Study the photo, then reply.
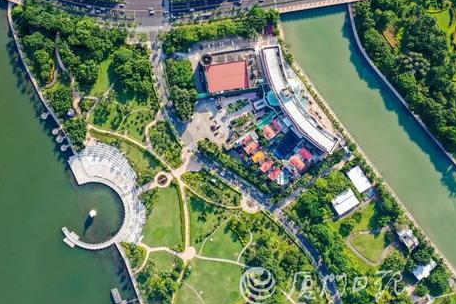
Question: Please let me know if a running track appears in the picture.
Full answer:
No, I can see no running track in this picture.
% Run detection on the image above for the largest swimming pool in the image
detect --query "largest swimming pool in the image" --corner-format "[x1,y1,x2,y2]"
[274,133,299,157]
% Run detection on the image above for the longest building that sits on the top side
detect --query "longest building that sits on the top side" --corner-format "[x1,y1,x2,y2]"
[258,46,339,152]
